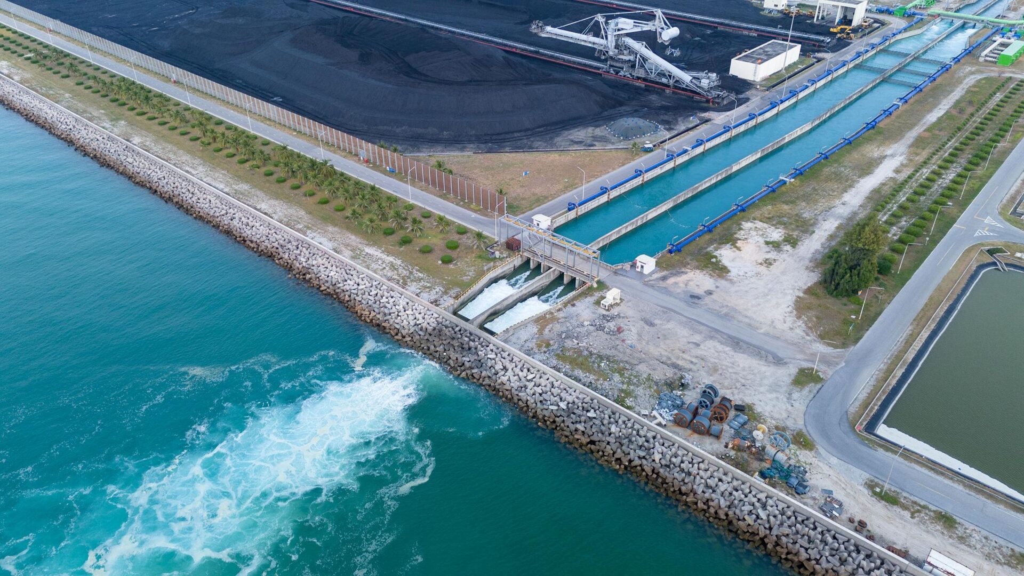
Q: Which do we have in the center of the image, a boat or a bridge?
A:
bridge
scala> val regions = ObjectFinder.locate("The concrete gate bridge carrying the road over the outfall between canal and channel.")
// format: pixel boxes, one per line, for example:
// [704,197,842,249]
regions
[521,240,614,289]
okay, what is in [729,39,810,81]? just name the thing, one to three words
building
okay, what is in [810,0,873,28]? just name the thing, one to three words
shed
